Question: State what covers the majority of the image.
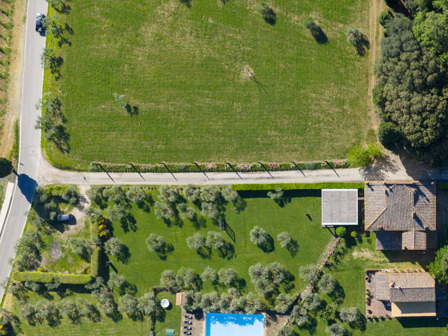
grass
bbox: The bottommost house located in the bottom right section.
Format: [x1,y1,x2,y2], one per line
[374,271,447,317]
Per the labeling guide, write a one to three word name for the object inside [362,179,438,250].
house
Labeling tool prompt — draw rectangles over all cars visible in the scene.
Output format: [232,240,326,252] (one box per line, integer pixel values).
[57,214,72,222]
[36,14,44,31]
